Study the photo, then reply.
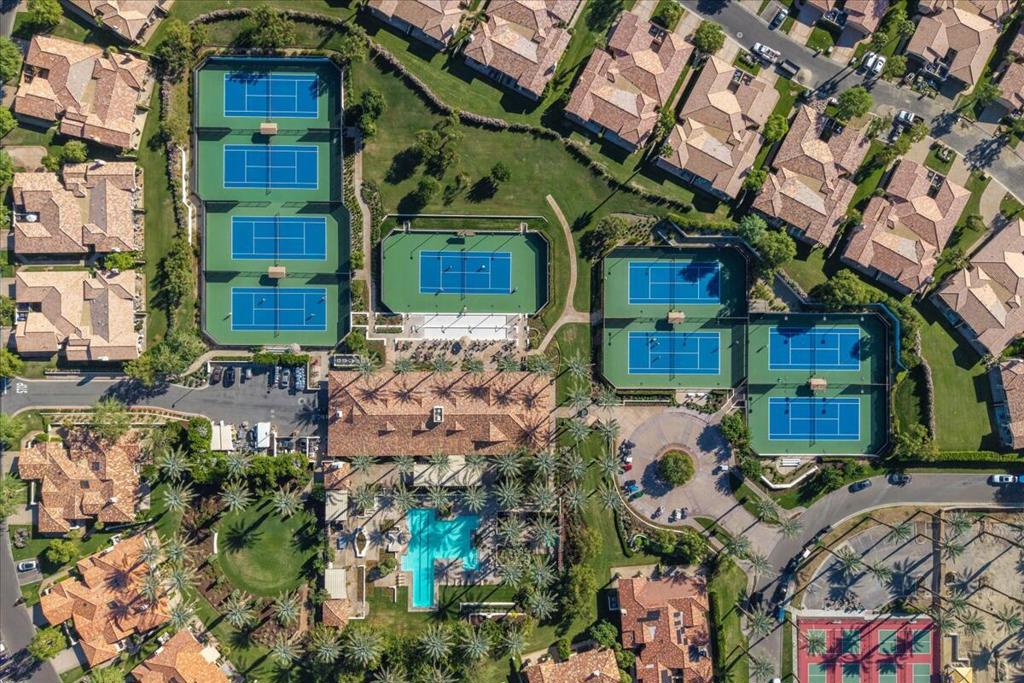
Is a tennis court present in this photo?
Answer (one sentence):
Yes, the photo shows a tennis court.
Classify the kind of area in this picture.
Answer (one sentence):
It's a residential area.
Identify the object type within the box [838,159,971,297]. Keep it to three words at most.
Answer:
house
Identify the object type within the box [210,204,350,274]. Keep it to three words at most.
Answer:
tennis court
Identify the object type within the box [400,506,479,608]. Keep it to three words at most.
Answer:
swimming pool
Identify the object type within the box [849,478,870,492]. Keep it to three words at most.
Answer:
car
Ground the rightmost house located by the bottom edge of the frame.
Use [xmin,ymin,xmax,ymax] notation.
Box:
[615,577,713,683]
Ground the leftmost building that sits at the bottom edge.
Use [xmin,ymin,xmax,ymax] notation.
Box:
[39,532,174,667]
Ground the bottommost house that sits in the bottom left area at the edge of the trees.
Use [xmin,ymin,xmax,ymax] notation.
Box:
[128,628,260,683]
